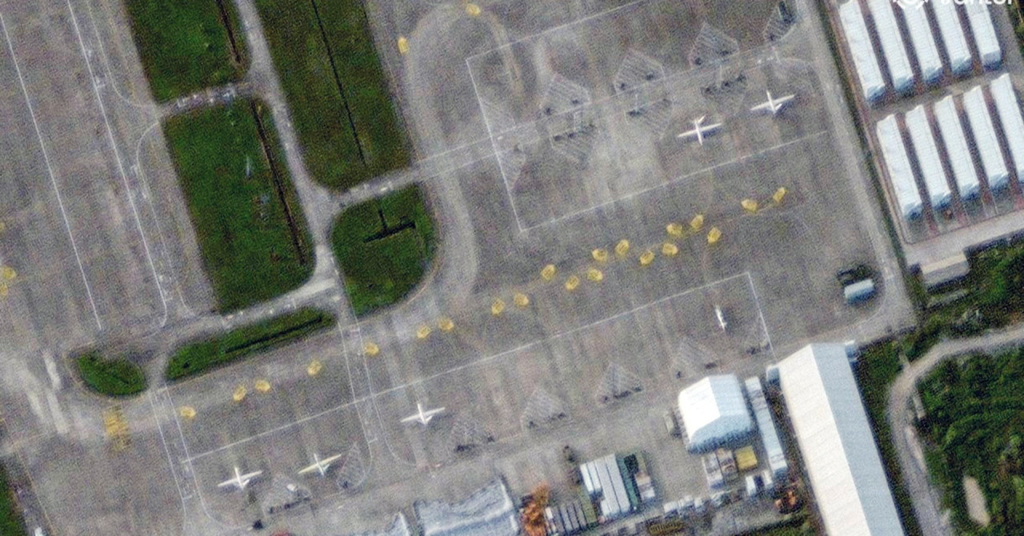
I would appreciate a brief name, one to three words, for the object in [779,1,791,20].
vehicle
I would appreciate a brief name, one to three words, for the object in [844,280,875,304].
shed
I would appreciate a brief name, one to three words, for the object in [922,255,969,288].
shed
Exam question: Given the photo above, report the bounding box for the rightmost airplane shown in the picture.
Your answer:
[750,90,793,113]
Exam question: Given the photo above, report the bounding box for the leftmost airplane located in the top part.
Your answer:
[677,117,721,145]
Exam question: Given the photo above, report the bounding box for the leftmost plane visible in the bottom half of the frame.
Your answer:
[217,466,261,490]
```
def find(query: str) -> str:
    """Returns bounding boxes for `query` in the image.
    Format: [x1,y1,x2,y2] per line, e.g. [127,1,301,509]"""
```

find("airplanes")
[716,307,731,331]
[296,454,342,477]
[750,90,793,113]
[400,403,444,425]
[677,117,721,145]
[217,466,261,490]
